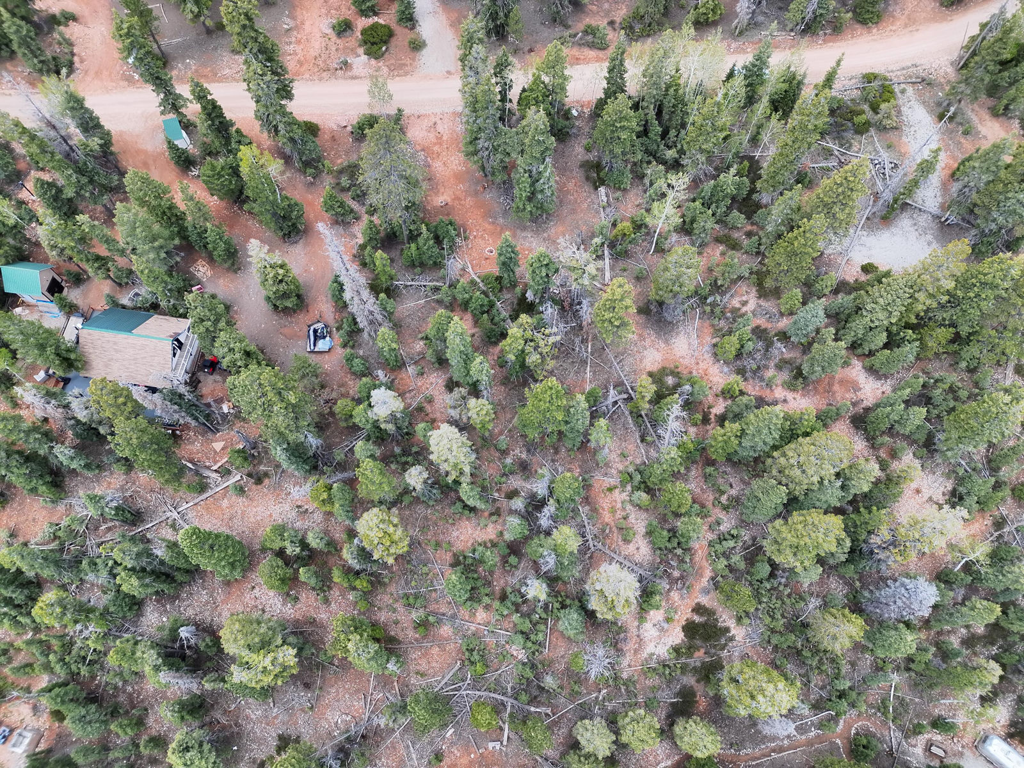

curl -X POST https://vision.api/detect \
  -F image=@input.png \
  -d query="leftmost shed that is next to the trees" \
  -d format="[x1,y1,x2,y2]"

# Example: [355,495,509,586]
[0,258,66,302]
